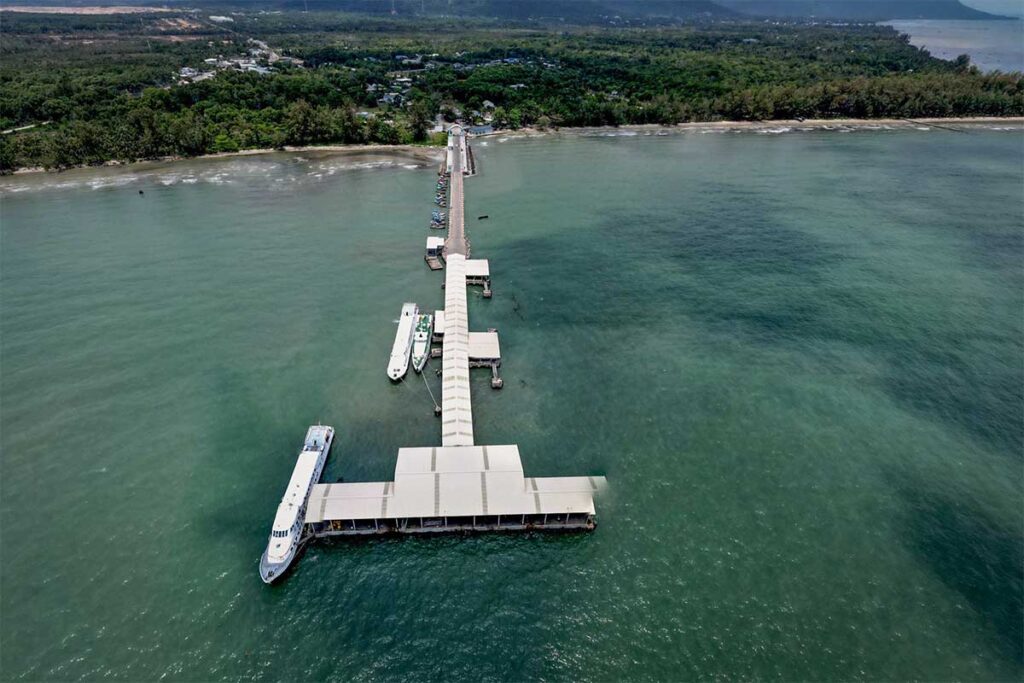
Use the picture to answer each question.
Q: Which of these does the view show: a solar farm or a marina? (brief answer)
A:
marina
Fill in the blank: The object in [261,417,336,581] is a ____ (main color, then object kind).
white vessel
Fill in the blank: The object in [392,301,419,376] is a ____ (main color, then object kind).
white vessel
